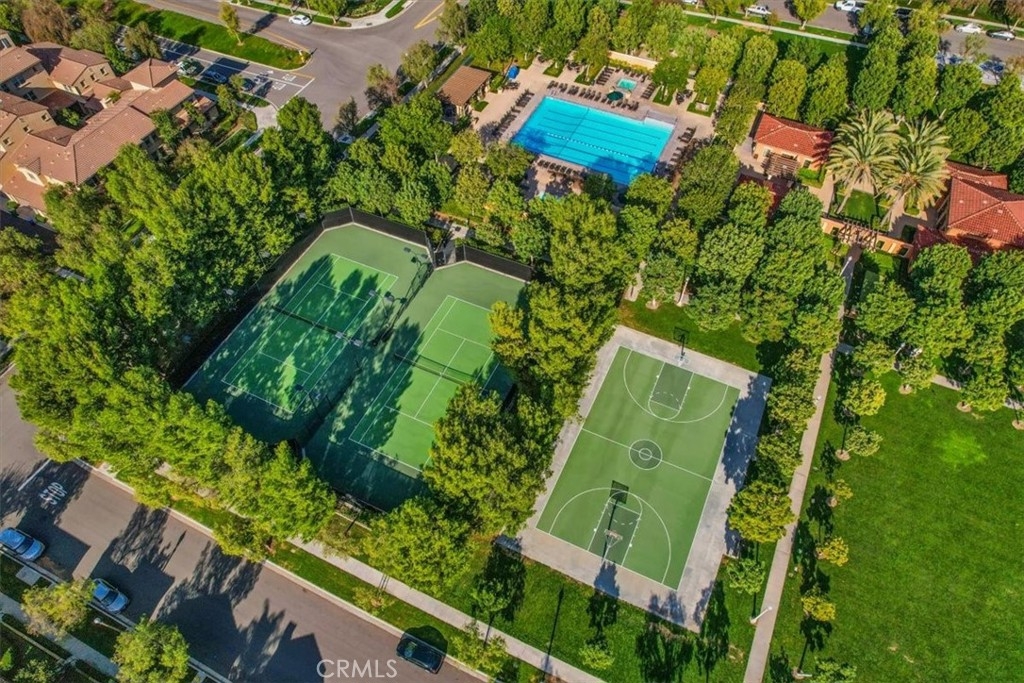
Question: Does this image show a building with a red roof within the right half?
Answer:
Yes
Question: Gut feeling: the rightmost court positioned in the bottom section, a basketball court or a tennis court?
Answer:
basketball court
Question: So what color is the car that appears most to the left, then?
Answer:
blue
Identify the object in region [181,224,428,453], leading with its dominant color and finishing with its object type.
green tennis court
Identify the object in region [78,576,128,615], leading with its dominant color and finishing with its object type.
blue car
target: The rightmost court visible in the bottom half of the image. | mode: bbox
[510,325,772,639]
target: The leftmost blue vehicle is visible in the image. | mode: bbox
[0,525,38,560]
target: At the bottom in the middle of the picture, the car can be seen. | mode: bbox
[390,635,443,678]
